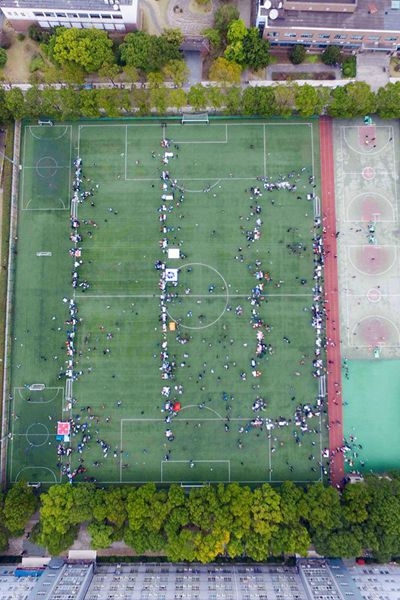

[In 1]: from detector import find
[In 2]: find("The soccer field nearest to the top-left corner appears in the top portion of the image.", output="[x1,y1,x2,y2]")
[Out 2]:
[20,125,73,210]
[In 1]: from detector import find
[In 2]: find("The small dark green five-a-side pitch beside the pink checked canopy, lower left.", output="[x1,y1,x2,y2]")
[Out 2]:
[11,387,63,483]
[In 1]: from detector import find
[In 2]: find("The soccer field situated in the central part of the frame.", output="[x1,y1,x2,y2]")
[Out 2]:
[67,121,324,485]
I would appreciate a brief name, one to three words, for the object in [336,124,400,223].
basketball court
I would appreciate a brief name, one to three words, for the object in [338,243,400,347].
basketball court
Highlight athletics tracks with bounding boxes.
[320,117,344,481]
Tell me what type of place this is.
sports ground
